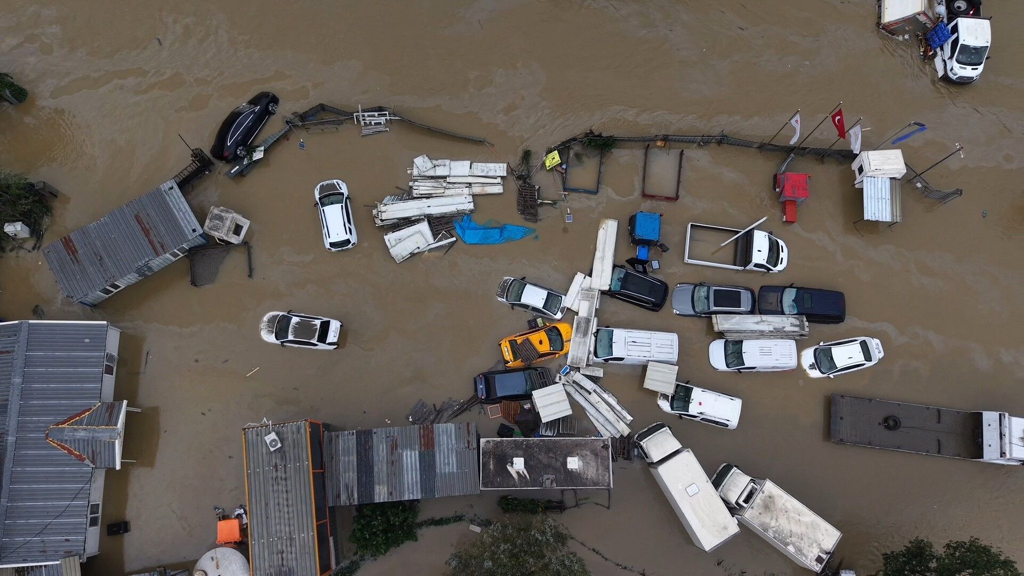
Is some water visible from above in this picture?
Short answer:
Yes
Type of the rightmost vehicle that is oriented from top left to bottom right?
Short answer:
truck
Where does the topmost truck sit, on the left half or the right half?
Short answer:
right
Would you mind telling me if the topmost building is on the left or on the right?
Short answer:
right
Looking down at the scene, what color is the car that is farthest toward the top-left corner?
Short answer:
black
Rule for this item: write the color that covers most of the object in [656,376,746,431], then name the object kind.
white van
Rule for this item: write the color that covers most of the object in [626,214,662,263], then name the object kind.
blue work vehicle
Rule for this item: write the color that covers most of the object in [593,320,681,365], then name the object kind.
white van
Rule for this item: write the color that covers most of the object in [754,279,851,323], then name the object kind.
black car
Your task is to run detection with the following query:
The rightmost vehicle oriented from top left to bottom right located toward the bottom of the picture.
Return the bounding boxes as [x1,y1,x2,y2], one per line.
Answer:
[706,456,841,573]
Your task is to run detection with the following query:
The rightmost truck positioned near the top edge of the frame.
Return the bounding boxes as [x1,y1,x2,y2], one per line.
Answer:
[943,0,997,91]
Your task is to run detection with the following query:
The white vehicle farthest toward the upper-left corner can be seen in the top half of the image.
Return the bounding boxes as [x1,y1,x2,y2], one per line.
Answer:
[313,179,359,255]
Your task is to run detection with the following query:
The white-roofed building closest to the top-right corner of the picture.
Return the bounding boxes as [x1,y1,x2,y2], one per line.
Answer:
[855,149,907,181]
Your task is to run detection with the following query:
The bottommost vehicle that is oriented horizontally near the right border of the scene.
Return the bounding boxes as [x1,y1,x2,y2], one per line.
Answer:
[829,393,1024,463]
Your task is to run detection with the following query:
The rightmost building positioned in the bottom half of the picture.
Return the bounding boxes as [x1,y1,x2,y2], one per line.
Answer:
[480,437,614,490]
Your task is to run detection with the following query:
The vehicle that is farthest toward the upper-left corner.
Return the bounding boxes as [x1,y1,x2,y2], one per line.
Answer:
[208,93,271,161]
